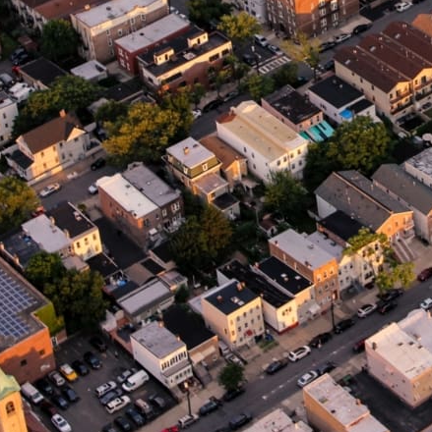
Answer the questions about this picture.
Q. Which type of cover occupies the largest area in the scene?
buildings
